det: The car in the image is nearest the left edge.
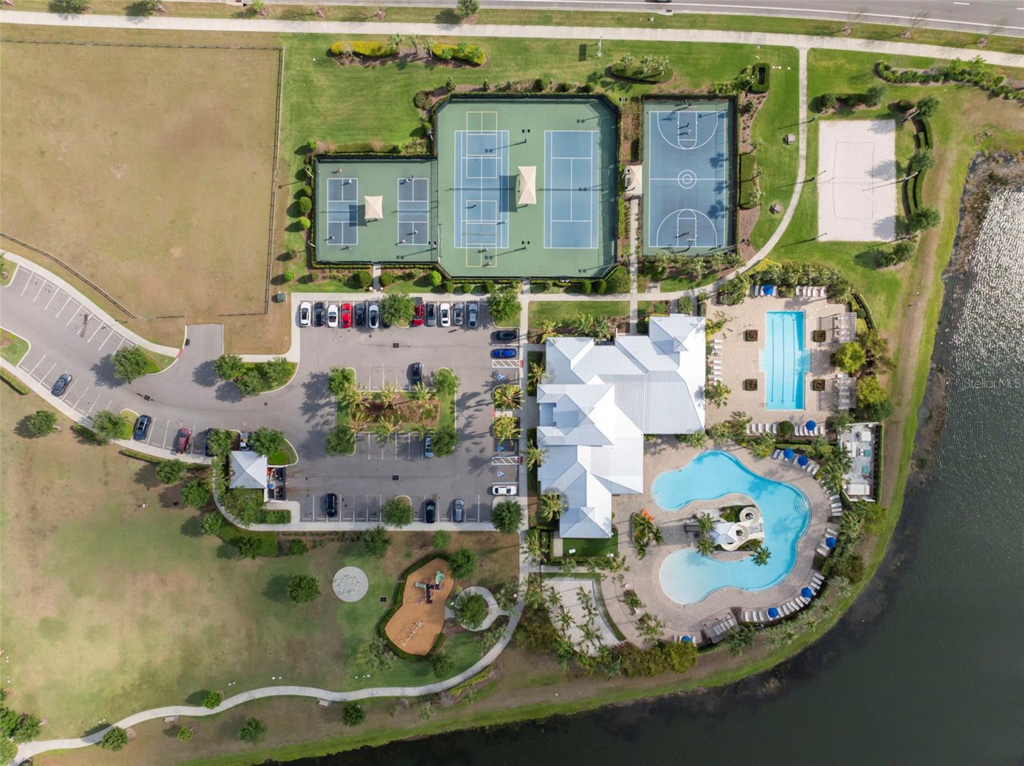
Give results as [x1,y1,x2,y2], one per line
[52,373,72,396]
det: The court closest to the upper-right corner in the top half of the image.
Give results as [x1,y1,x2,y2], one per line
[818,119,896,242]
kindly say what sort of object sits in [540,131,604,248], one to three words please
tennis court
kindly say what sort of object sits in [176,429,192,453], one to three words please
car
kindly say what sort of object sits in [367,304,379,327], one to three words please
vehicle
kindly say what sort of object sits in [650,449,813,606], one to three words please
swimming pool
